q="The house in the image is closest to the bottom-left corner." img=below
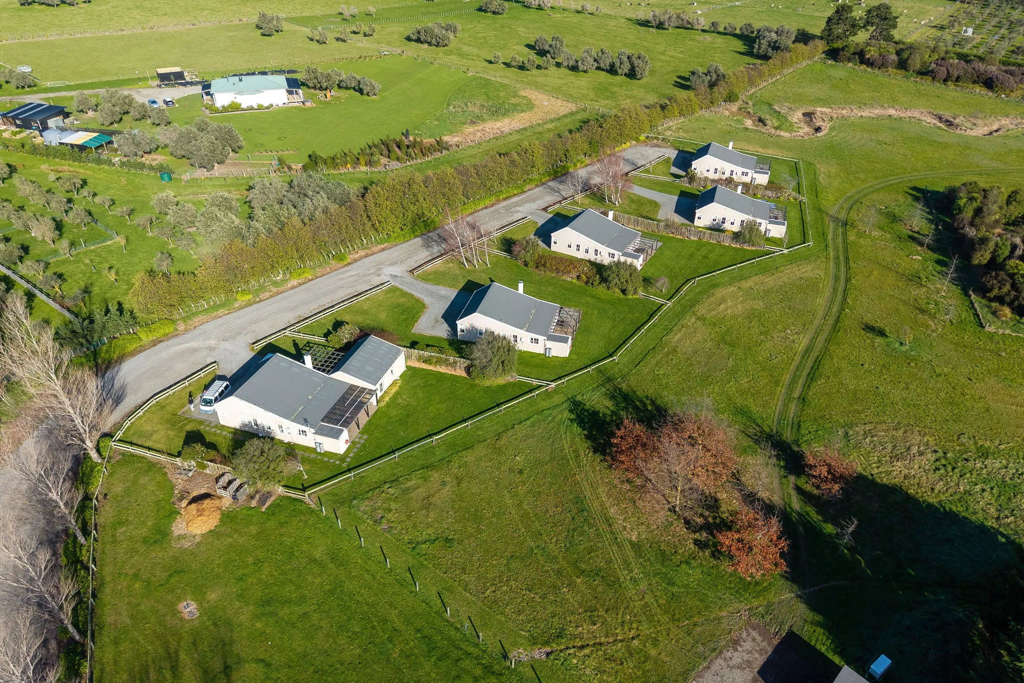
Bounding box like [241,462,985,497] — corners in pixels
[213,335,405,453]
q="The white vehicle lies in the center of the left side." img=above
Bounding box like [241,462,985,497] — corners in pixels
[198,378,231,414]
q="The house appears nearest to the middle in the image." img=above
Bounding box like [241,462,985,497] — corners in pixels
[456,277,584,357]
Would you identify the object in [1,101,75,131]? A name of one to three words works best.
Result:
shed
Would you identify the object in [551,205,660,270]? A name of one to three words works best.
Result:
house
